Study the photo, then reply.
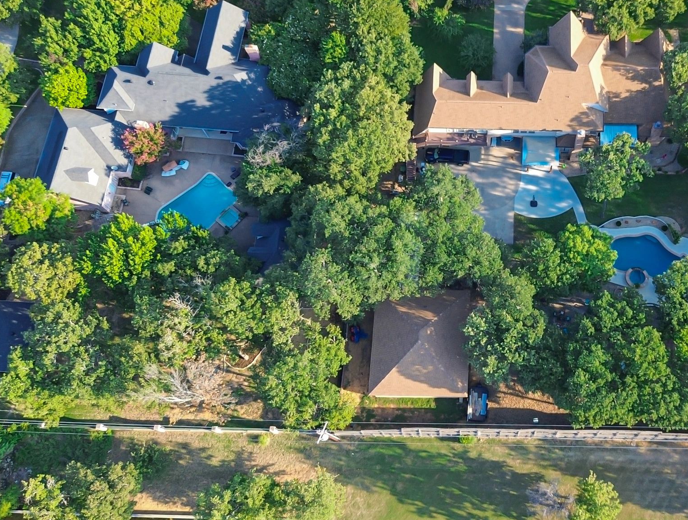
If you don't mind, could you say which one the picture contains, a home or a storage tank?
home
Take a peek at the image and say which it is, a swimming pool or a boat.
swimming pool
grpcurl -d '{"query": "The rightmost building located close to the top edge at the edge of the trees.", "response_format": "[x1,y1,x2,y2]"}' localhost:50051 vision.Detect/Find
[412,10,673,171]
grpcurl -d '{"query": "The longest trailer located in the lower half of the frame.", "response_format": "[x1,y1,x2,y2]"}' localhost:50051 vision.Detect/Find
[466,376,490,422]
